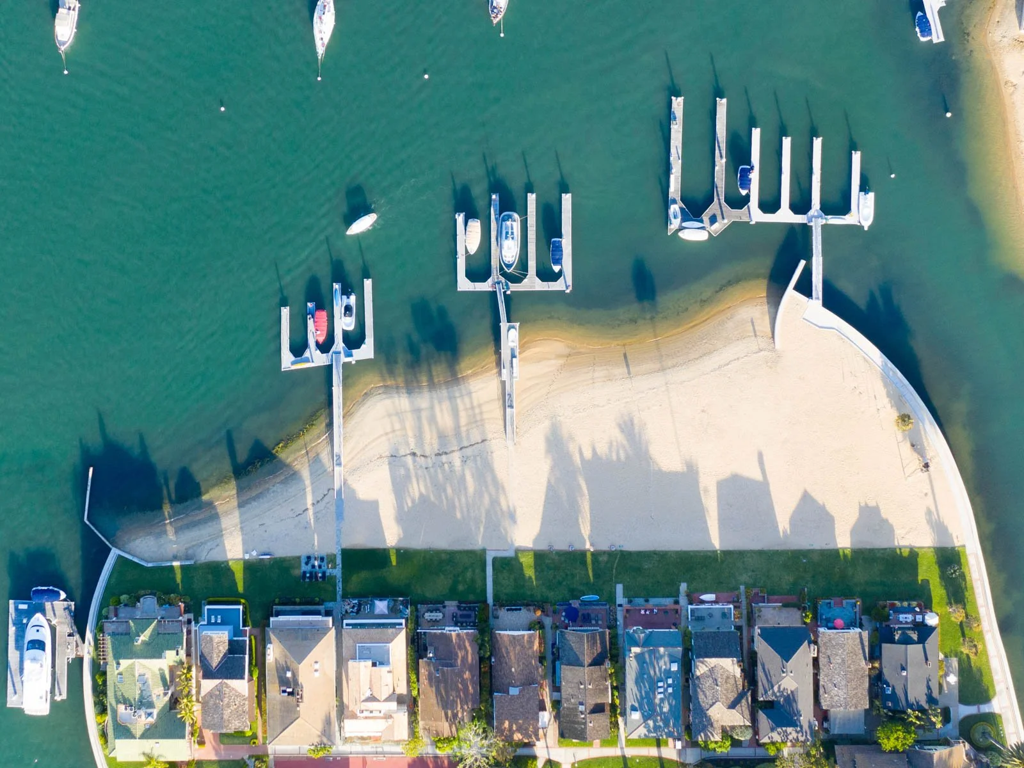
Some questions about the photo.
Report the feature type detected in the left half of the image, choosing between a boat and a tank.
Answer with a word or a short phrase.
boat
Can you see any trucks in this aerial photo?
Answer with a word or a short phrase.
No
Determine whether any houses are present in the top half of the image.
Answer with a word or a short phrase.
No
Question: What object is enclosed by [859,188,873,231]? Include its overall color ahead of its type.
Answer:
white boat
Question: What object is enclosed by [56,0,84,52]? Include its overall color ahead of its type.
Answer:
white boat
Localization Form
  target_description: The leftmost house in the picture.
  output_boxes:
[107,616,195,762]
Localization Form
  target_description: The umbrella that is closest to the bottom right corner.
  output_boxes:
[945,671,957,684]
